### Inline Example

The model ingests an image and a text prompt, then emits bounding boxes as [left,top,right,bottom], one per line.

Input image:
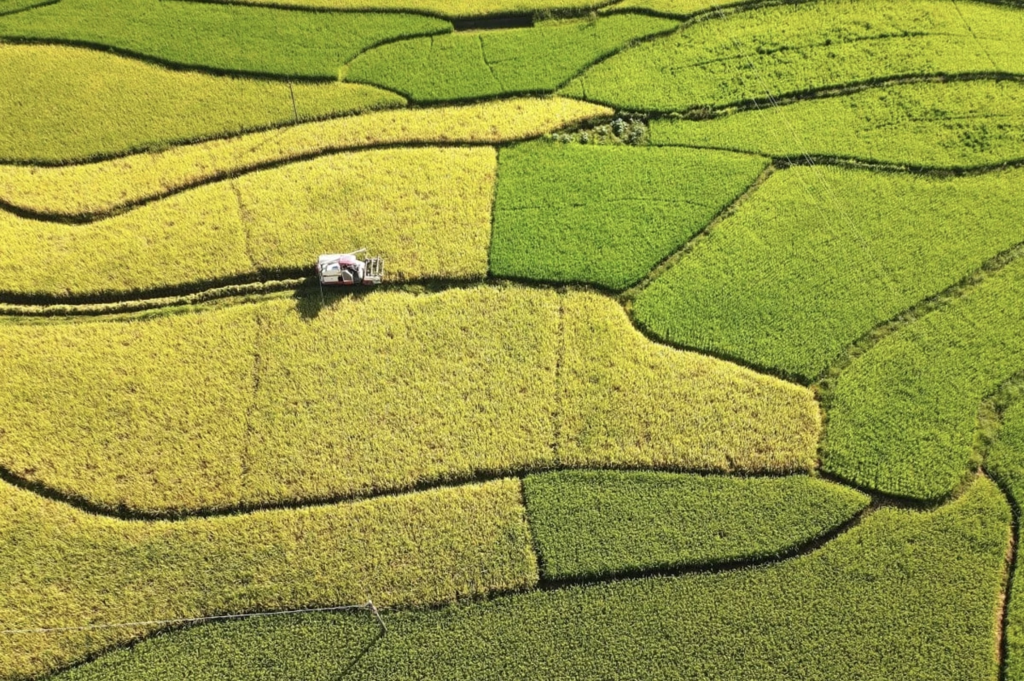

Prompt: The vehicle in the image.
[318,246,386,289]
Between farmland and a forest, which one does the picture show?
farmland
